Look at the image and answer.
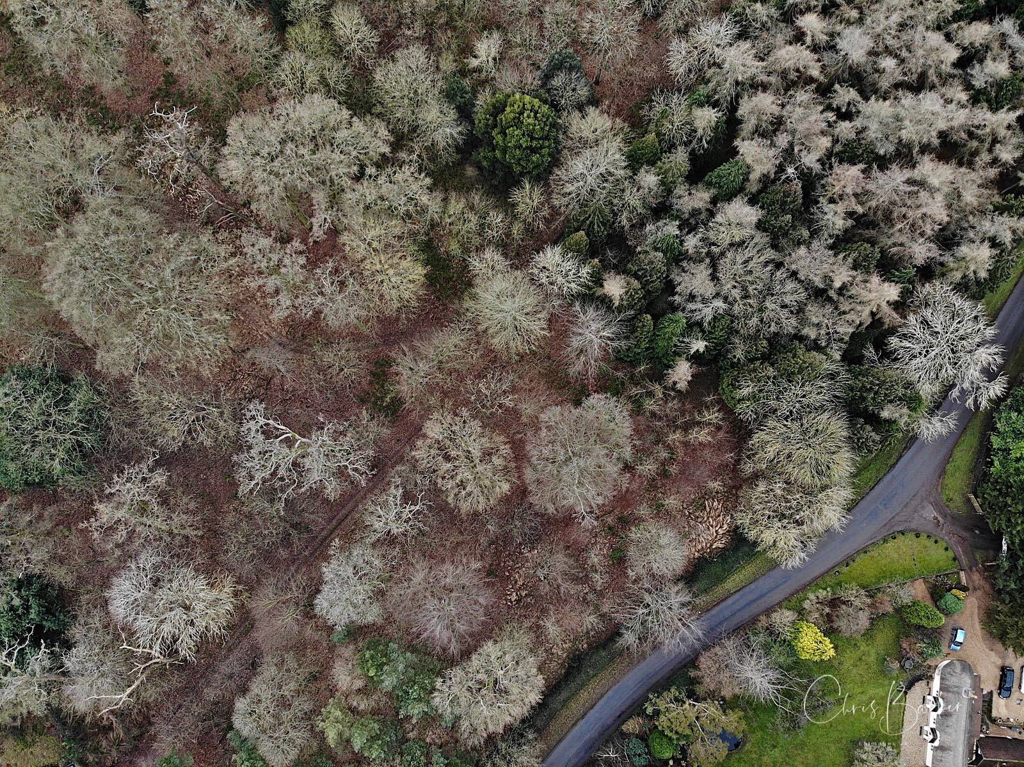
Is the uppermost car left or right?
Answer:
right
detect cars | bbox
[1019,661,1024,693]
[947,626,967,653]
[995,664,1017,701]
